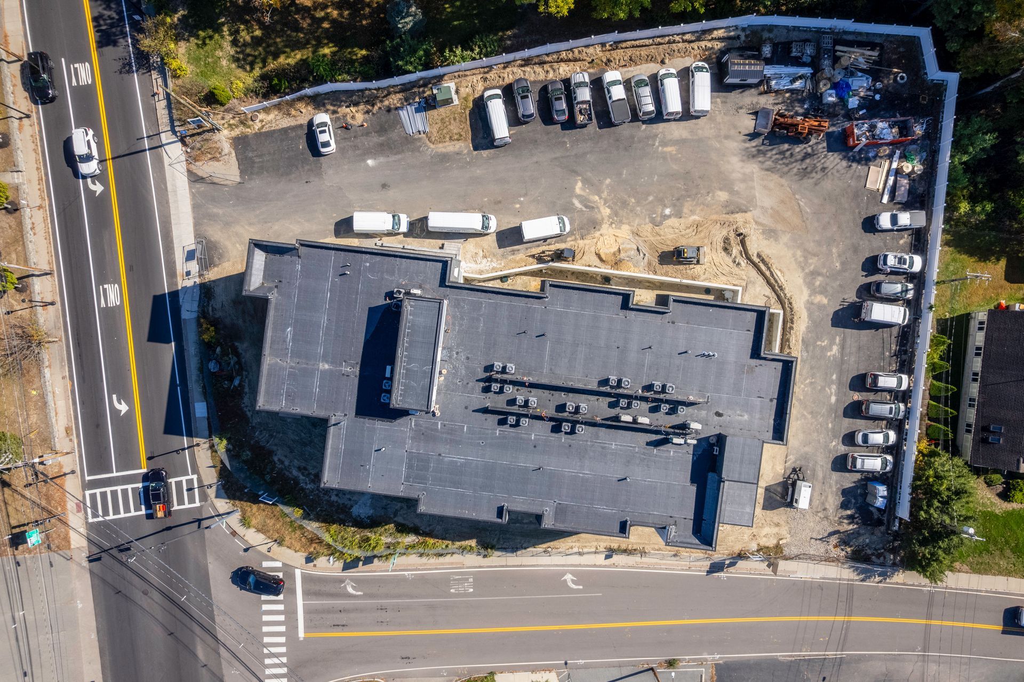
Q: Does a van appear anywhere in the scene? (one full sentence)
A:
Yes, looking at the shot, I can spot a van.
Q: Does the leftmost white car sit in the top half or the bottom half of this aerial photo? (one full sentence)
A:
You can find the leftmost white car in the top half.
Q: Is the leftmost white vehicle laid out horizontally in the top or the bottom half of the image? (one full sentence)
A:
The top half of the photo is where the leftmost white vehicle laid out horizontally is.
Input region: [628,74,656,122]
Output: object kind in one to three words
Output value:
car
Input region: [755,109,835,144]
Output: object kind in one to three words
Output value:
work vehicle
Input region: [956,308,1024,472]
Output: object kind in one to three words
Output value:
house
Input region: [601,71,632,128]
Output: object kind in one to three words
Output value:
truck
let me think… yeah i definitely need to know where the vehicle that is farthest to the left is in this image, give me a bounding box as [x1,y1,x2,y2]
[27,52,60,103]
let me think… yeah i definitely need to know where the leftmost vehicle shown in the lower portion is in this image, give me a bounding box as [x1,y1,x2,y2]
[146,465,175,521]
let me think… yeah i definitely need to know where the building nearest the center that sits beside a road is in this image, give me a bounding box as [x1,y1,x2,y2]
[243,212,798,552]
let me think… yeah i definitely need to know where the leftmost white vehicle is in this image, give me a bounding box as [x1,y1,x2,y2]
[70,126,106,179]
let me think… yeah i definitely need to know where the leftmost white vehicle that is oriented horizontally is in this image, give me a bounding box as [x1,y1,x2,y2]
[352,212,409,236]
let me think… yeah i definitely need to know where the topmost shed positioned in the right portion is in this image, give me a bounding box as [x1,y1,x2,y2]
[724,57,767,89]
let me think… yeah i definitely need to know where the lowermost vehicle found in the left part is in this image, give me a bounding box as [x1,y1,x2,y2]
[236,565,285,595]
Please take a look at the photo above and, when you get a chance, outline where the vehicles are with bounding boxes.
[518,213,570,243]
[535,247,575,262]
[146,465,175,521]
[481,89,510,149]
[844,452,892,474]
[569,72,594,129]
[855,301,908,326]
[755,109,835,144]
[862,370,908,393]
[512,78,537,125]
[601,71,632,128]
[428,211,495,236]
[1012,606,1024,626]
[852,428,895,450]
[310,111,338,158]
[857,399,905,421]
[654,68,685,123]
[867,279,913,301]
[687,63,712,119]
[352,212,409,236]
[628,74,656,122]
[27,52,60,103]
[70,126,106,179]
[672,246,705,265]
[546,79,569,125]
[871,208,926,232]
[236,565,285,595]
[874,251,920,274]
